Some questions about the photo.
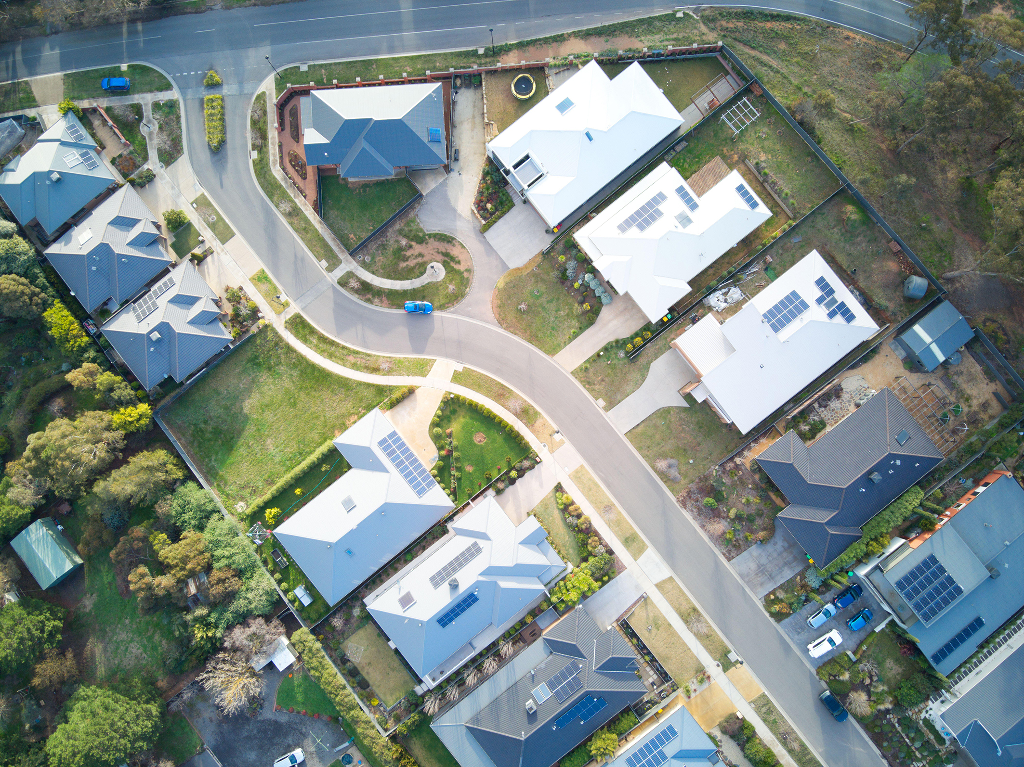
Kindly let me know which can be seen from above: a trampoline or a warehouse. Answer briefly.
trampoline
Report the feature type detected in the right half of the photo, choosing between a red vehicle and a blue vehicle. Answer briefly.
blue vehicle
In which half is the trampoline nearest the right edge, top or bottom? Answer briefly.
top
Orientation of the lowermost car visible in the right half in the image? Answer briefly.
on a diagonal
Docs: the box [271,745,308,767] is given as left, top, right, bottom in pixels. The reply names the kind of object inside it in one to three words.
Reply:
car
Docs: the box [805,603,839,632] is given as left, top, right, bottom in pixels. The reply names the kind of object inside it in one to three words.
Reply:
car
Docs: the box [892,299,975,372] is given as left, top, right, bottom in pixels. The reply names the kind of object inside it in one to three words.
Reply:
shed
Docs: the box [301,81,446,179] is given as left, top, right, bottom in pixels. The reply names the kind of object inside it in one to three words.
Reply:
house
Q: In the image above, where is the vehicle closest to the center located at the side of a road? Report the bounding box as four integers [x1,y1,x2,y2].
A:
[404,300,433,314]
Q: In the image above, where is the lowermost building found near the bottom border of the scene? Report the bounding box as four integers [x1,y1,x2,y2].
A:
[598,703,719,767]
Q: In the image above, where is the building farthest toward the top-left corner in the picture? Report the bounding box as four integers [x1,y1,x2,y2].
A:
[0,110,122,235]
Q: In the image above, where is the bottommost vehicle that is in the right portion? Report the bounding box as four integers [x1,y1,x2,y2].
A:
[817,688,850,725]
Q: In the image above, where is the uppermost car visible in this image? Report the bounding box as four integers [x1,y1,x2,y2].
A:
[102,77,131,92]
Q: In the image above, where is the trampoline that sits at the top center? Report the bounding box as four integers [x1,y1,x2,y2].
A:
[512,72,536,97]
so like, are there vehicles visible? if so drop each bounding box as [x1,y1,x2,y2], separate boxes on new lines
[832,583,866,612]
[807,629,845,661]
[102,77,131,92]
[817,688,850,725]
[805,603,839,632]
[844,606,875,634]
[271,745,308,767]
[404,300,433,314]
